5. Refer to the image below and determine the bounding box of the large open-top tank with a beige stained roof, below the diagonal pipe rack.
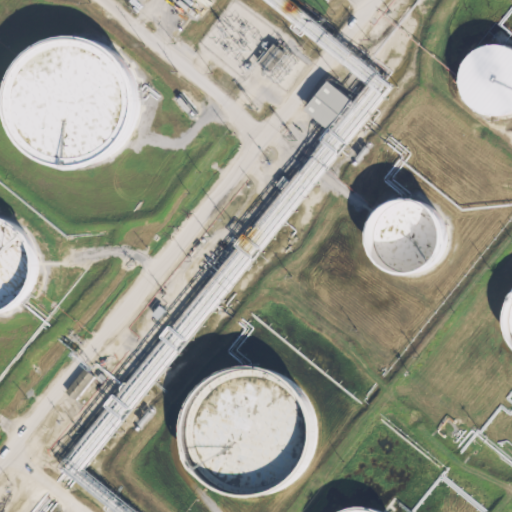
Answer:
[176,366,317,498]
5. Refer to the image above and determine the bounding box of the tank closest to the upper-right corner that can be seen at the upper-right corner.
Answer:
[458,42,512,120]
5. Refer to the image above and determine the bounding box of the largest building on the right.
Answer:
[304,81,354,128]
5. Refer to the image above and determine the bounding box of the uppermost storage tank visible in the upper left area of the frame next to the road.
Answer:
[0,34,143,170]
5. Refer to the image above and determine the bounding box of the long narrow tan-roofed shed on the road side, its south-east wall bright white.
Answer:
[68,372,99,403]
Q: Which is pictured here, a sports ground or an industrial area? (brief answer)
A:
industrial area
